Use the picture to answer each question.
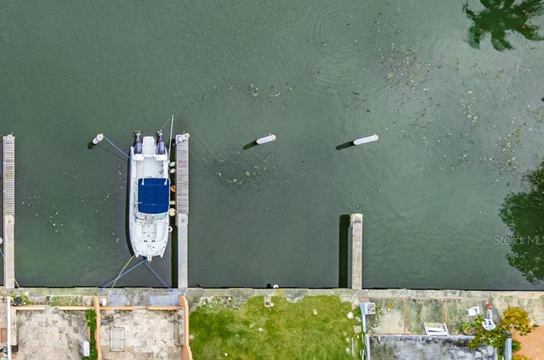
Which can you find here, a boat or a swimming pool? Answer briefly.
boat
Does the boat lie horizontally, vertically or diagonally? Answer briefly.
vertically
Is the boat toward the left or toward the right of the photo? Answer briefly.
left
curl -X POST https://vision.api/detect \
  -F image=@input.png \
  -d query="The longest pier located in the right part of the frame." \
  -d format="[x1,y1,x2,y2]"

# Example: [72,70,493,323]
[350,214,362,290]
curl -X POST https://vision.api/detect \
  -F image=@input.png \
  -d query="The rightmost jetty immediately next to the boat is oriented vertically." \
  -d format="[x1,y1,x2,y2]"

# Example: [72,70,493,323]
[171,134,190,290]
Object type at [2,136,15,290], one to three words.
pier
